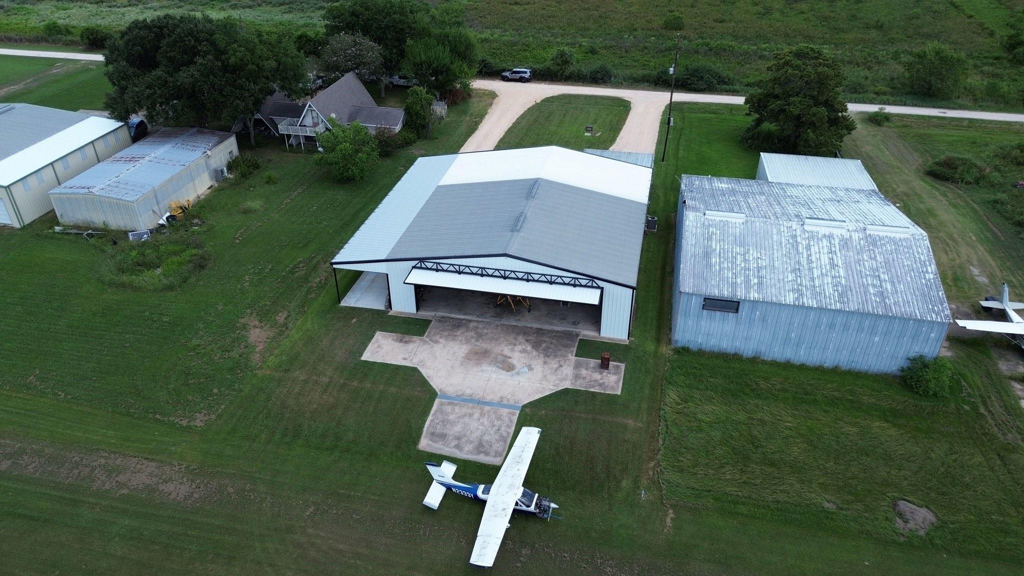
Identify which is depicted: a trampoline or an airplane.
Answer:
airplane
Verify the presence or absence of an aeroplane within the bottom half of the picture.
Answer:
Yes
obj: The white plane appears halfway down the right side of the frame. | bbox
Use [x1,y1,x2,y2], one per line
[956,289,1024,354]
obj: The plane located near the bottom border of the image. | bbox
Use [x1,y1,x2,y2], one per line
[421,426,561,568]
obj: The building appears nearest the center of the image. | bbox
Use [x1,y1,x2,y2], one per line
[329,144,655,340]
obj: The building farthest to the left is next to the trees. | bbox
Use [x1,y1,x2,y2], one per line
[0,102,134,228]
